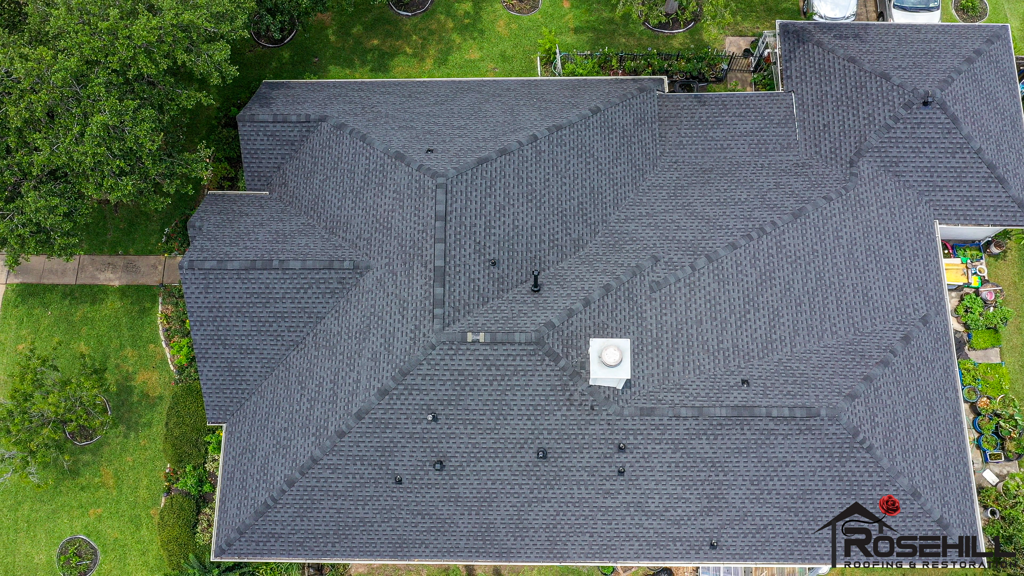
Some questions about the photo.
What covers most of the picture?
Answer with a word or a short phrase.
buildings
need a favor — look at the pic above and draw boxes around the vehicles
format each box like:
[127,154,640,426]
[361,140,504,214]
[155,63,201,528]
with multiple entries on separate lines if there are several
[799,0,856,21]
[881,0,943,22]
